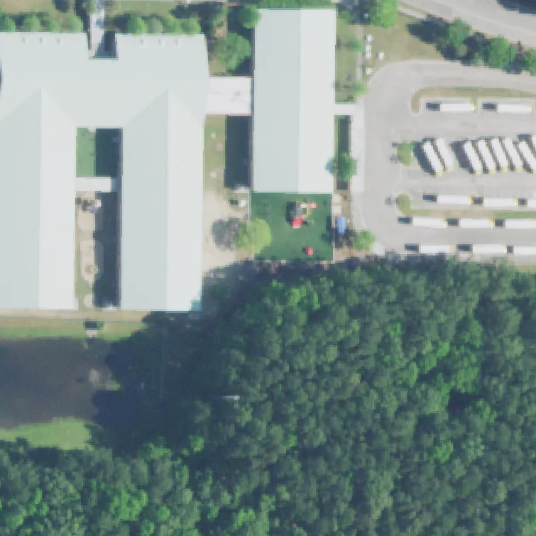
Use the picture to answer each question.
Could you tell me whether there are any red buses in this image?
No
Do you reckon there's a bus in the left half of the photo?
No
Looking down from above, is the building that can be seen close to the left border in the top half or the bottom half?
top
